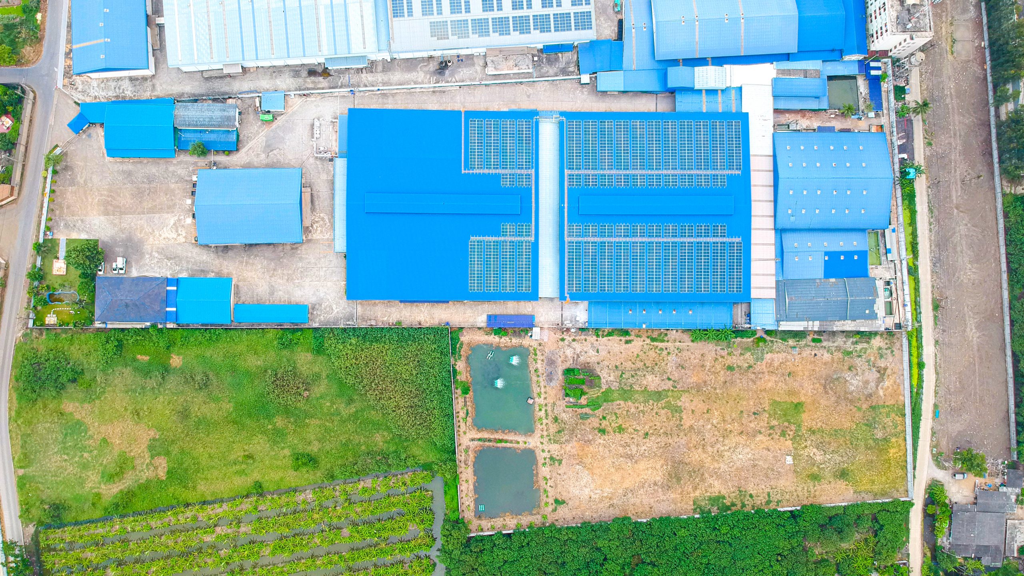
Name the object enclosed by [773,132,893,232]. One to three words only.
shed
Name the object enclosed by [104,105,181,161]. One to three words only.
building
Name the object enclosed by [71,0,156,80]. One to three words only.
building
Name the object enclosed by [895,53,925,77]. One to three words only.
water tower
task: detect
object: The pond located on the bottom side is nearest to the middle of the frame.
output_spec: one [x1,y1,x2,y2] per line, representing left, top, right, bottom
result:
[469,344,534,433]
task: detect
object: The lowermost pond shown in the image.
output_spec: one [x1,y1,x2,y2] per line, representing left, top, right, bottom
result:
[473,447,539,517]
